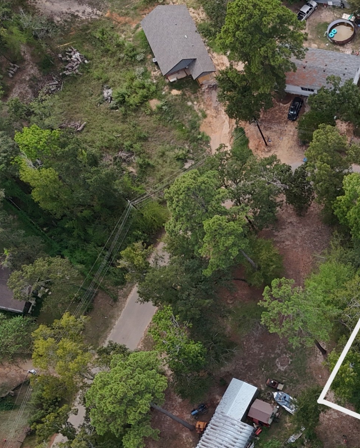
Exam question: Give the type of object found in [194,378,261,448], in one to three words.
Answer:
barn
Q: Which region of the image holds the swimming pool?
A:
top right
